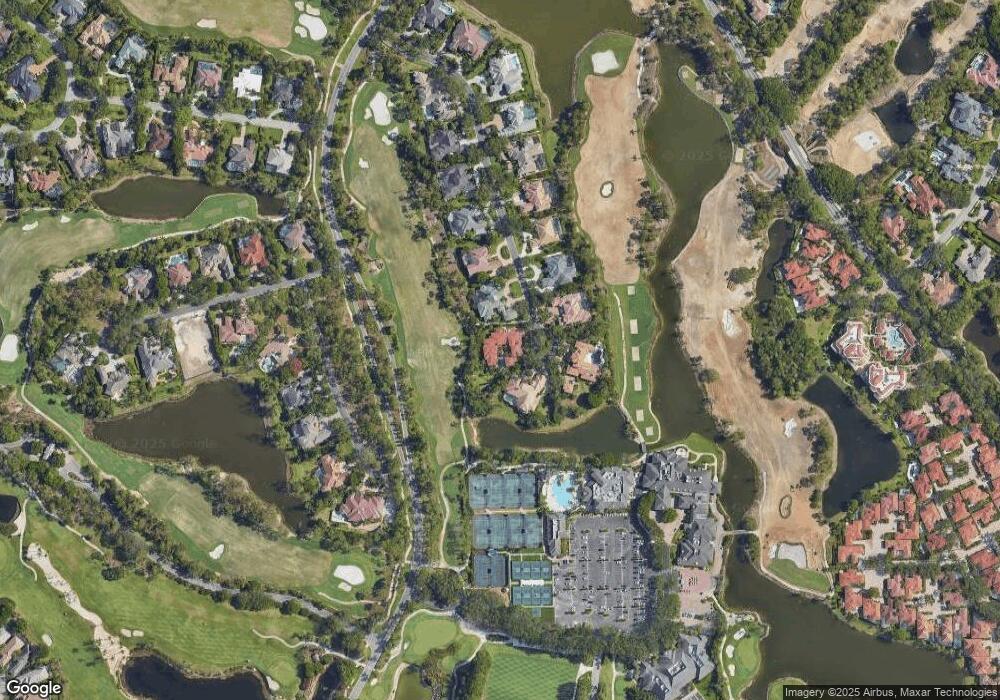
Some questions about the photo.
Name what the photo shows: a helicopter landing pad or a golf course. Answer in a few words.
golf course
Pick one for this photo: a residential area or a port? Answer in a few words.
residential area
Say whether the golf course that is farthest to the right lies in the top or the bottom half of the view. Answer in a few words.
top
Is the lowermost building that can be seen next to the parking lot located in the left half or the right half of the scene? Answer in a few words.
right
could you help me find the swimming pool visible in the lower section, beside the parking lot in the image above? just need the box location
[553,473,574,511]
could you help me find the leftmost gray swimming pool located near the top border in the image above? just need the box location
[104,15,122,35]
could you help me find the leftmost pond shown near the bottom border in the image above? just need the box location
[123,655,267,700]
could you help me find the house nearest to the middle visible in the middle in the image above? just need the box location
[479,323,528,369]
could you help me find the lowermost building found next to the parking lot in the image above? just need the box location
[640,637,721,700]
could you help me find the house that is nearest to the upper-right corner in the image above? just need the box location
[966,51,1000,90]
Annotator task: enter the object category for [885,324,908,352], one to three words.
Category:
swimming pool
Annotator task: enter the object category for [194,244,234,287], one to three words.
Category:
house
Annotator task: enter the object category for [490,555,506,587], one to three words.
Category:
tennis court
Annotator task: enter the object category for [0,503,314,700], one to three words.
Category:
golf course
